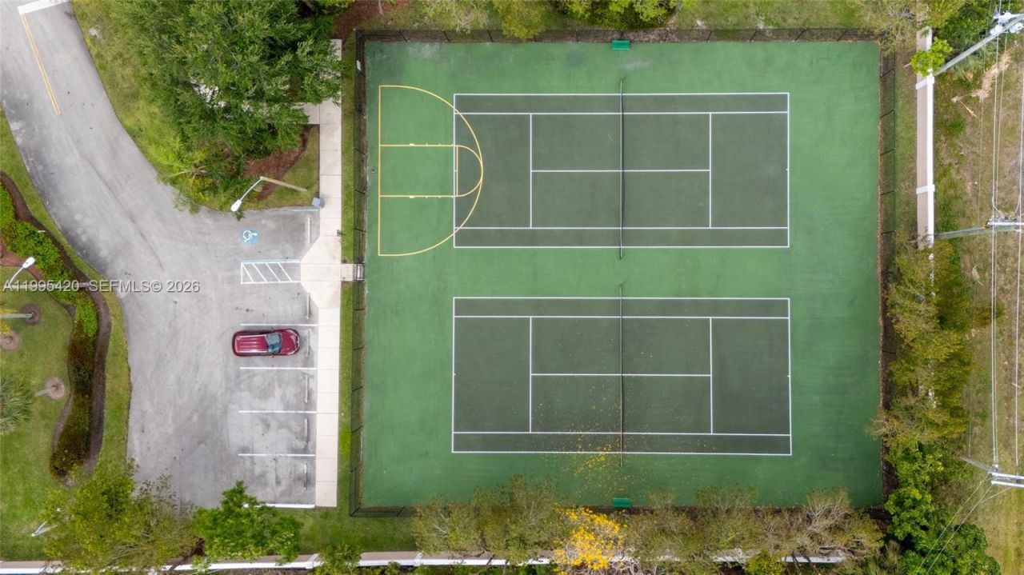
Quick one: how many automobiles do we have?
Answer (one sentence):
The picture shows just 1 automobile.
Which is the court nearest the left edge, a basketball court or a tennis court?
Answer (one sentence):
The court nearest the left edge in the image is a basketball court.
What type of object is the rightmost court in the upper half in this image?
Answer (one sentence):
In the photo, the rightmost court in the upper half shows up as a tennis court.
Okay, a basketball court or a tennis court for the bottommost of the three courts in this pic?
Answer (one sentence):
It turns out the bottommost of the three courts is a tennis court.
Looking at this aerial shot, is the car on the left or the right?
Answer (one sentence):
The car is on the left side of the image.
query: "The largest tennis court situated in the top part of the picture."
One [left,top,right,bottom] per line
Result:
[453,93,790,247]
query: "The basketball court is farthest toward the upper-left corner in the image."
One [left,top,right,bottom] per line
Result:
[378,86,483,255]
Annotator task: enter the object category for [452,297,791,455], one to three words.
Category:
tennis court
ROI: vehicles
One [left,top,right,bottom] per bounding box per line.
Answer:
[231,327,301,359]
